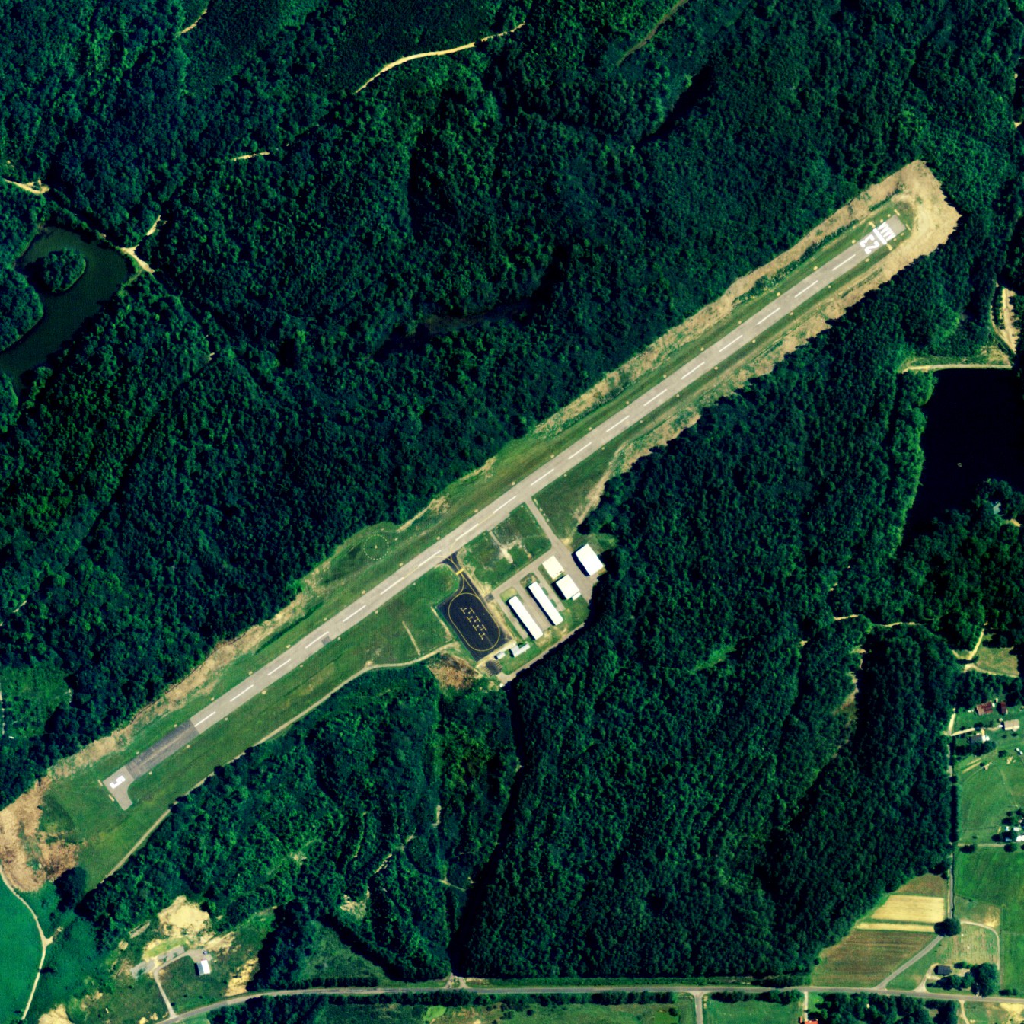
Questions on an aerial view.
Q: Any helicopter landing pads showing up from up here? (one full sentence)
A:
No, no helicopter landing pad can be seen from above.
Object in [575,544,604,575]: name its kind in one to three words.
hangar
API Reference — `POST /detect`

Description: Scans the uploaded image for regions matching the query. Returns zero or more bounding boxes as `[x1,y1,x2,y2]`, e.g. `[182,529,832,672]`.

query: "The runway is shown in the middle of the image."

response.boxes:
[103,215,905,810]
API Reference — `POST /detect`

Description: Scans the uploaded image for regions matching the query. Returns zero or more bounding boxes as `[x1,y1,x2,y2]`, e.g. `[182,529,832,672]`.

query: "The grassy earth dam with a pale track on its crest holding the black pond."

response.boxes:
[897,344,1012,375]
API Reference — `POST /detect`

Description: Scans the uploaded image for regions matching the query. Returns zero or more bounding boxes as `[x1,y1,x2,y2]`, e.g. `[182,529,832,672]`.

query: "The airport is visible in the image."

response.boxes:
[38,198,914,896]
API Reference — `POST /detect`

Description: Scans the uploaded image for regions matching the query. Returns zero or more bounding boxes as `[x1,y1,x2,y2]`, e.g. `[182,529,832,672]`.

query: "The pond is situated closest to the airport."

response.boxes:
[901,367,1024,554]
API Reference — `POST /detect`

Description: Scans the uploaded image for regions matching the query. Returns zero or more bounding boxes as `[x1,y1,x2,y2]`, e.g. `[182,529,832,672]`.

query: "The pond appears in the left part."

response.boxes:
[0,225,127,403]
